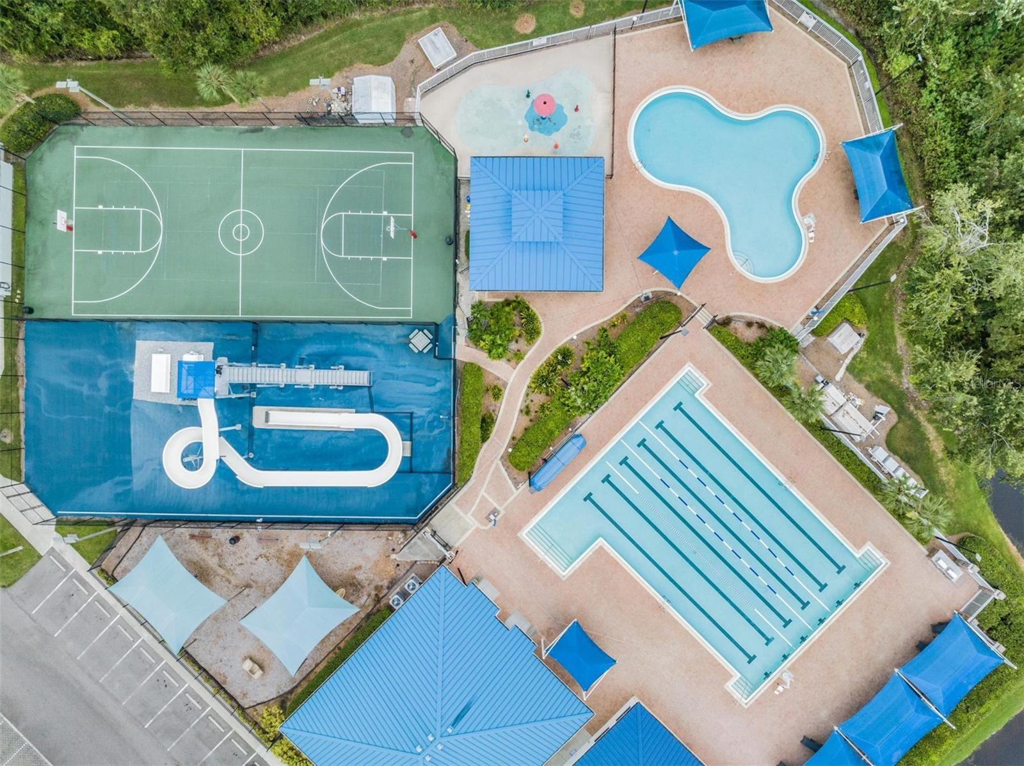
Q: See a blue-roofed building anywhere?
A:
Yes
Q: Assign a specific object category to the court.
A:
basketball court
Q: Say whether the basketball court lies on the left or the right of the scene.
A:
left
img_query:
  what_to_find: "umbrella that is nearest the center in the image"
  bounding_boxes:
[637,216,711,290]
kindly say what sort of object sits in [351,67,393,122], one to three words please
shed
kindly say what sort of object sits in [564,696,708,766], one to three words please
building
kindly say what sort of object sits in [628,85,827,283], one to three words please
swimming pool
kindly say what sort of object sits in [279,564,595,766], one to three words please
building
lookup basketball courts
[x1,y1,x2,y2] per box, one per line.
[25,125,457,321]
